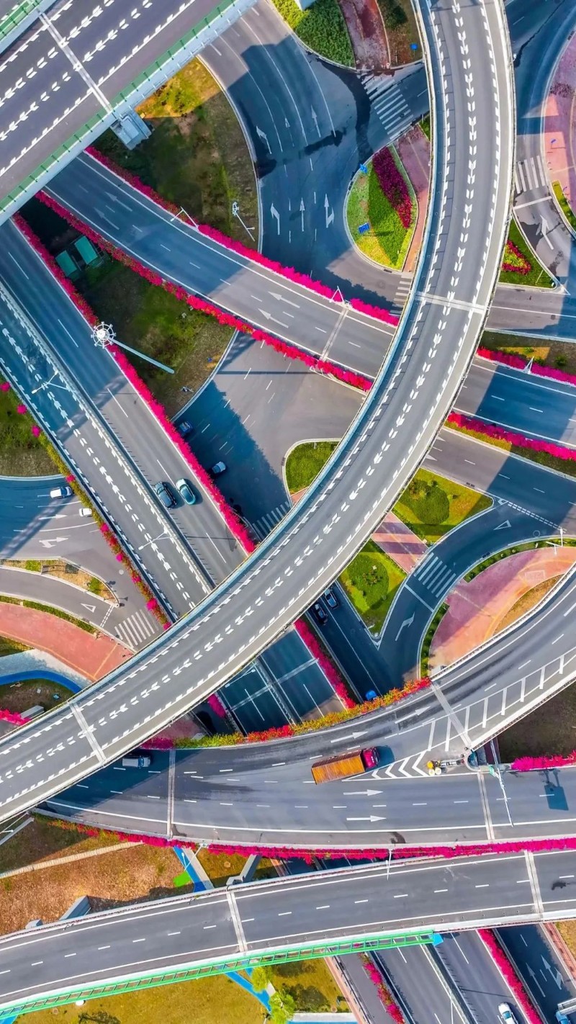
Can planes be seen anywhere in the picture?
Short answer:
No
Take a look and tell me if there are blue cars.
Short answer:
Yes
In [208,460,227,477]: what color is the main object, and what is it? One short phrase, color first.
blue car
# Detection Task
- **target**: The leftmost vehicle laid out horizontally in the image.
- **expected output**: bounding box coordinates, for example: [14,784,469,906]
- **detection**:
[45,486,72,499]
